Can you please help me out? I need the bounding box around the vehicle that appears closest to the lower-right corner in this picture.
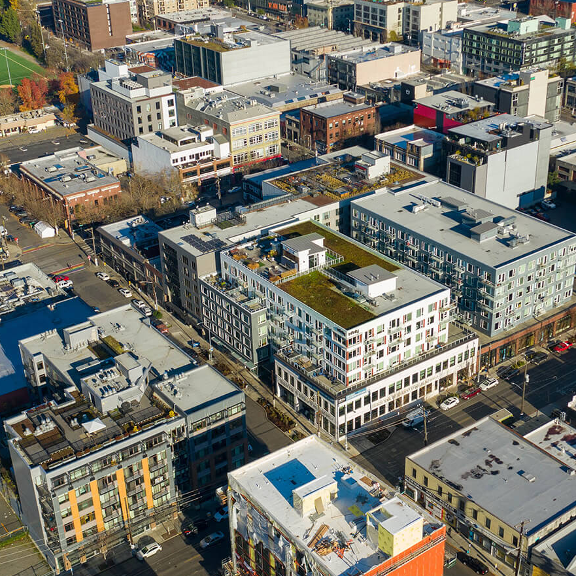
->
[463,555,487,574]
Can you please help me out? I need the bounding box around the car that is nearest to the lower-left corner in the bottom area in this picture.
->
[136,543,162,560]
